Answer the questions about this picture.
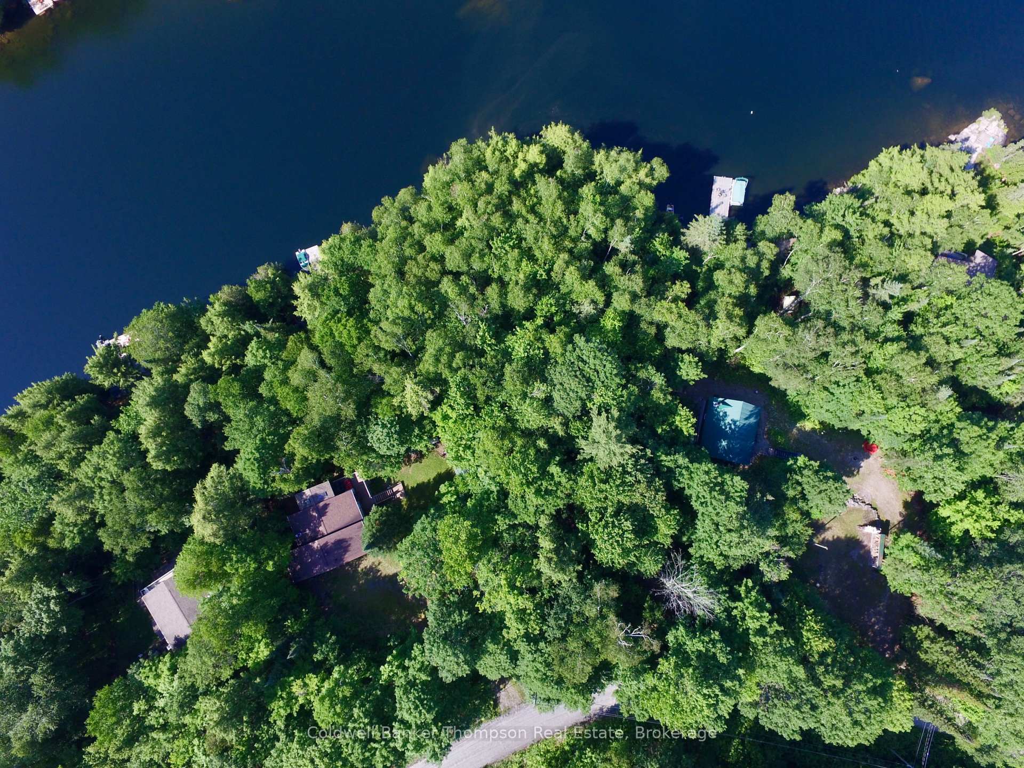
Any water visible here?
Yes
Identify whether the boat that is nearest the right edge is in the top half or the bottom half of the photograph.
top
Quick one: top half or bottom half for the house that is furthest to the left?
bottom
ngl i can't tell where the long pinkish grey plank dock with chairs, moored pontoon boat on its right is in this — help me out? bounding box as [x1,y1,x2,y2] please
[709,176,733,226]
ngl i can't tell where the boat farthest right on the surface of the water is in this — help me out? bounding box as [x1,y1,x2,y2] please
[730,174,753,207]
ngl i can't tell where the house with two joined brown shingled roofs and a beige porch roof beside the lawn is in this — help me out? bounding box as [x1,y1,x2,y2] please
[288,474,406,582]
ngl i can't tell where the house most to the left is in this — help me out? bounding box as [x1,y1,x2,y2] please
[136,573,206,649]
